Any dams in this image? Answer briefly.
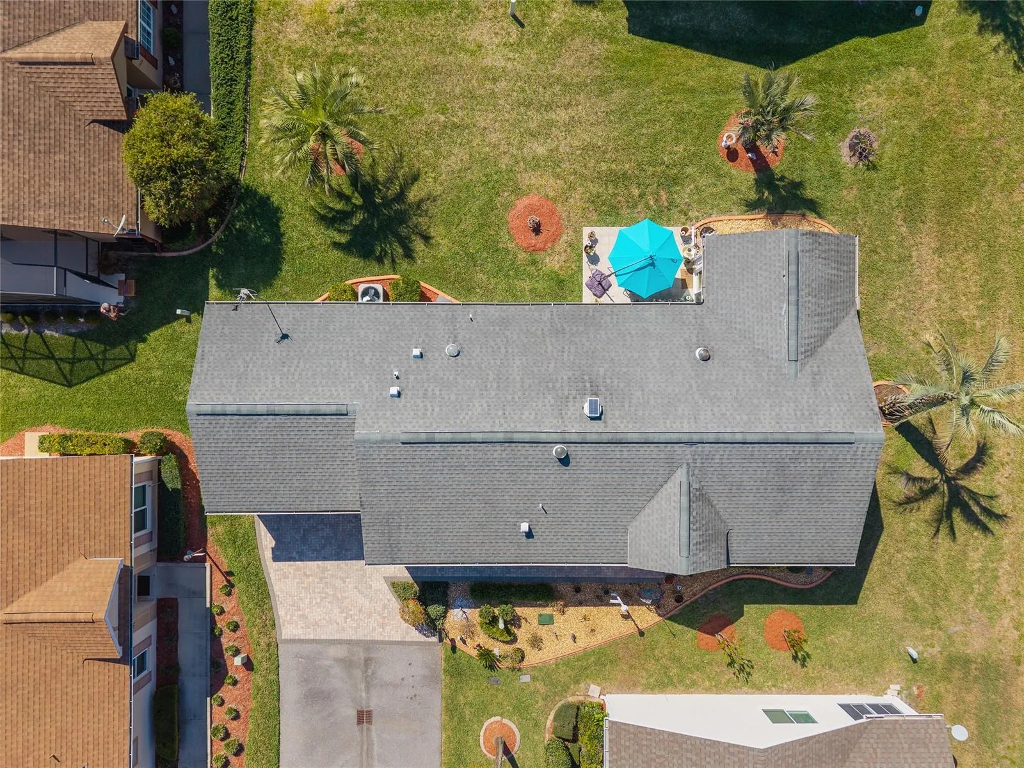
No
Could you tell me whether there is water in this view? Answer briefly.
No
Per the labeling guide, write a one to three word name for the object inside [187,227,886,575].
house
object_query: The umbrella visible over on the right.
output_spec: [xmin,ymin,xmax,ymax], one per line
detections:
[584,218,684,299]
